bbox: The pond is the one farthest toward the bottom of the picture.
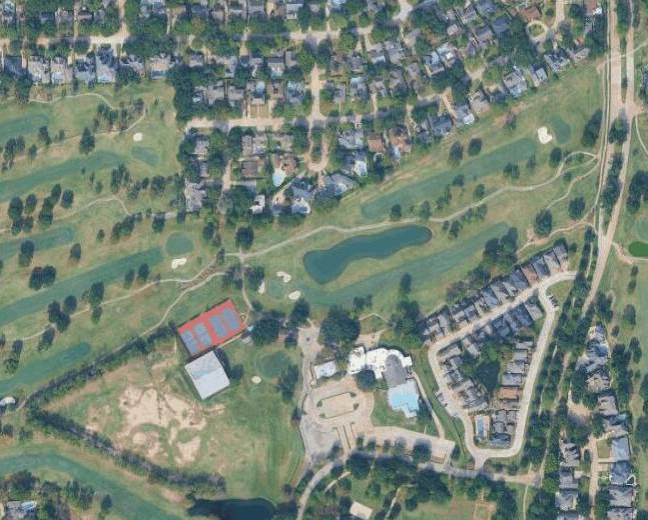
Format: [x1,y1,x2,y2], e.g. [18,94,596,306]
[185,495,279,520]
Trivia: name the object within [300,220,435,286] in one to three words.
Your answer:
pond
